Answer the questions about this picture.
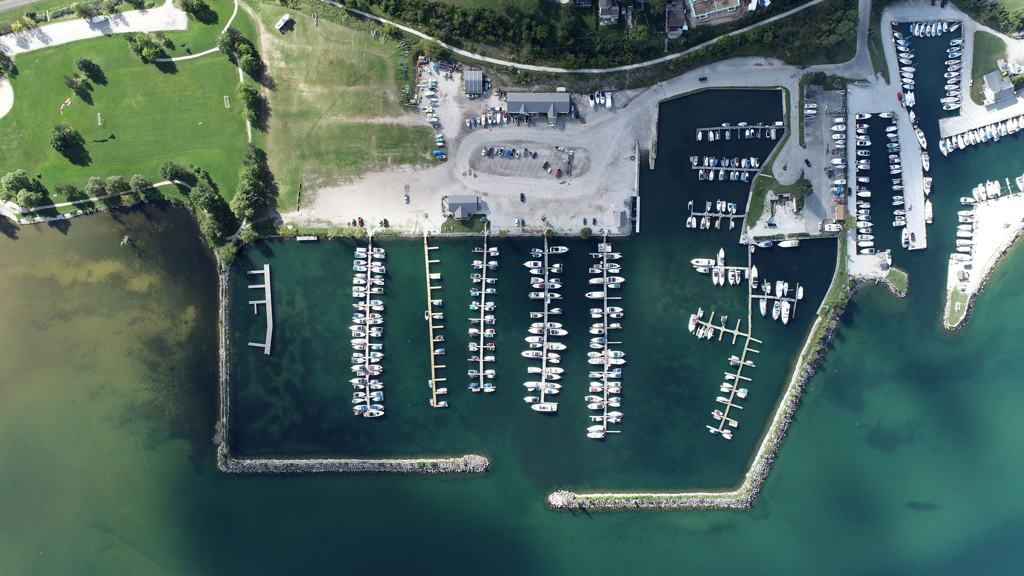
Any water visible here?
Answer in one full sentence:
Yes, water can be seen from above here.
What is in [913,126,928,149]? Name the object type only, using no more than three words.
boat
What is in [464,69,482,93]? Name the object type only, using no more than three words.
shed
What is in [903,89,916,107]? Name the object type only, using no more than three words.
boat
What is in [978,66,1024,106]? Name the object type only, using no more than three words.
house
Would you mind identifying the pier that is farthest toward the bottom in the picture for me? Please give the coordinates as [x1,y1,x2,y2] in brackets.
[706,337,763,436]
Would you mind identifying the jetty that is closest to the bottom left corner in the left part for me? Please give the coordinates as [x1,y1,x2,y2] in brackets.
[246,265,273,354]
